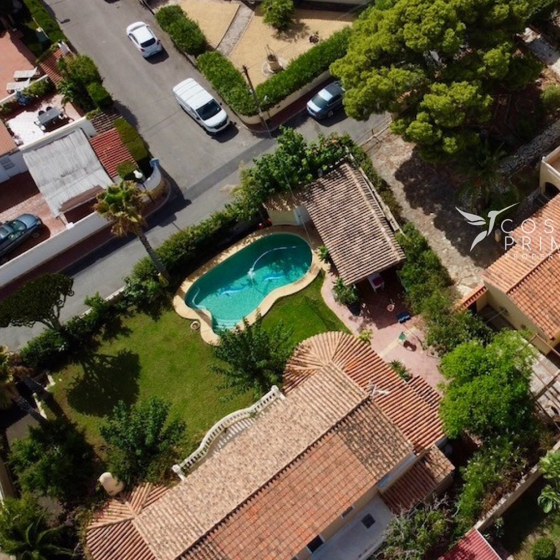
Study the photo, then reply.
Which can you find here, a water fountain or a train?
water fountain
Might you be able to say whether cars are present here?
Yes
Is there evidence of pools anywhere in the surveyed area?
Yes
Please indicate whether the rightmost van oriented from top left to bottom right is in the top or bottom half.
top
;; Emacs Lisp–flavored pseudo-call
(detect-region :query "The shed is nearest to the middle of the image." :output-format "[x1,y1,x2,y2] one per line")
[260,162,408,302]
